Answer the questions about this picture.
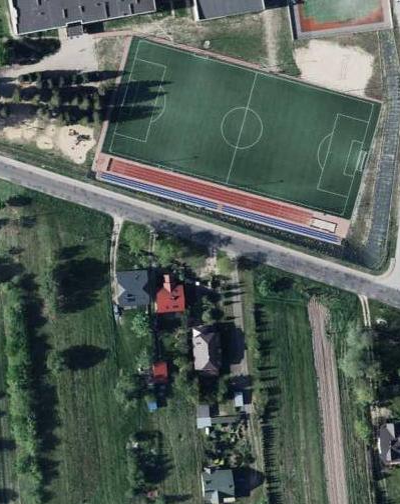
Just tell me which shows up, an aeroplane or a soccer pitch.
soccer pitch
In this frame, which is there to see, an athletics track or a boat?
athletics track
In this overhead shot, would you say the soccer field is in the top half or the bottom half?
top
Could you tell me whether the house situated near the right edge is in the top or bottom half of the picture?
bottom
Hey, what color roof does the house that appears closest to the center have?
red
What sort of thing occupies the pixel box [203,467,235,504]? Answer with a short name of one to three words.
house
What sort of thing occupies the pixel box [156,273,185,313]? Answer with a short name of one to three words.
house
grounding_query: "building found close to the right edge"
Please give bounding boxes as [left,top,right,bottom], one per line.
[376,424,400,465]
